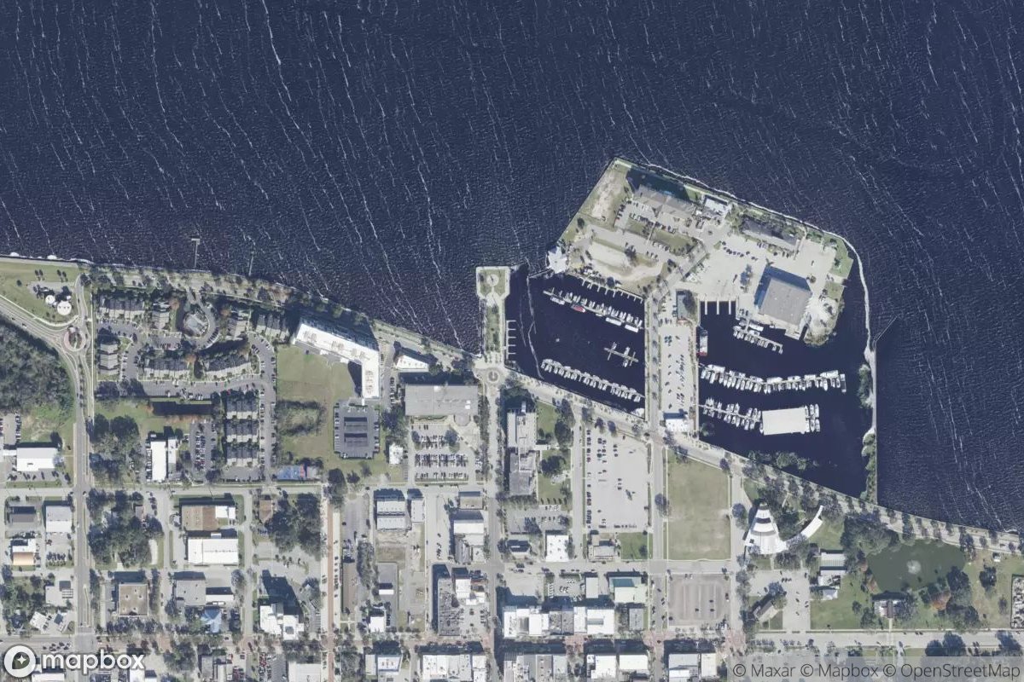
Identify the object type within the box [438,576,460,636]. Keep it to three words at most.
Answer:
building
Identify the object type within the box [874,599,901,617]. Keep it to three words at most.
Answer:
house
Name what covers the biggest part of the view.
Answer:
water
